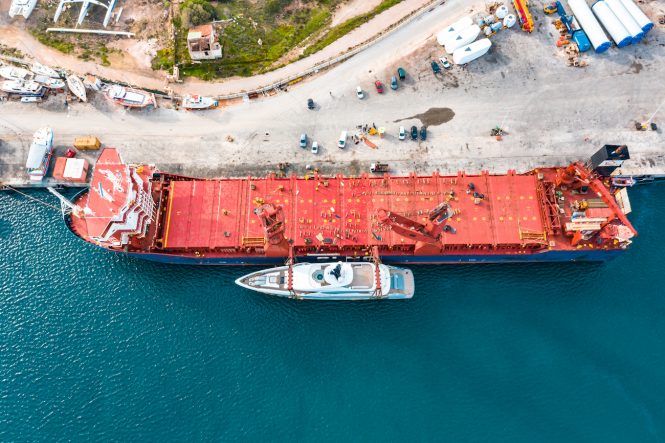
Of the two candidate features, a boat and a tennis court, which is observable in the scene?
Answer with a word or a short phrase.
boat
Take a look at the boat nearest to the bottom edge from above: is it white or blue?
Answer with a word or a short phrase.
white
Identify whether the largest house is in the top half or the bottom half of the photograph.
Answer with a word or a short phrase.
top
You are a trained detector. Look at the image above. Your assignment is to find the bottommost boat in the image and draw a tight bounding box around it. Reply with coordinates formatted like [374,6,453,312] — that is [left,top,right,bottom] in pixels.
[232,259,416,299]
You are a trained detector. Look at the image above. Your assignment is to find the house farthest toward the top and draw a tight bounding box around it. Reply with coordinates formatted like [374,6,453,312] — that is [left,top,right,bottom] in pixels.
[186,27,222,60]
